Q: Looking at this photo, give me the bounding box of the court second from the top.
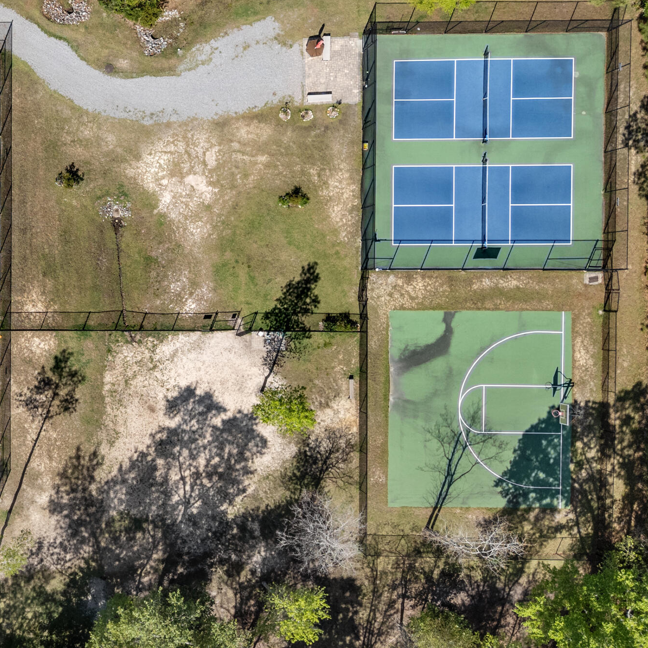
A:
[361,152,605,268]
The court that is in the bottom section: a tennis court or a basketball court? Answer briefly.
basketball court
